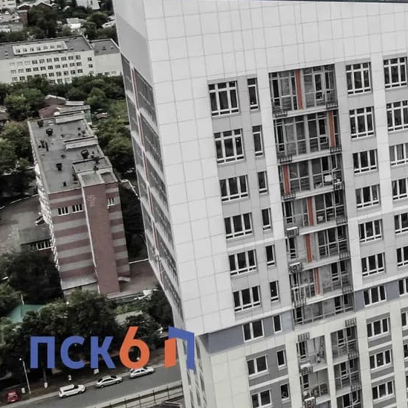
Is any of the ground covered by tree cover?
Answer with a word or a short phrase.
Yes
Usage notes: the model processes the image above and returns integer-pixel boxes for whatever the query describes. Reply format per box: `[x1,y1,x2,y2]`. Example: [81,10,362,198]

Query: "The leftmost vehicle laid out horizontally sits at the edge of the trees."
[56,379,86,396]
